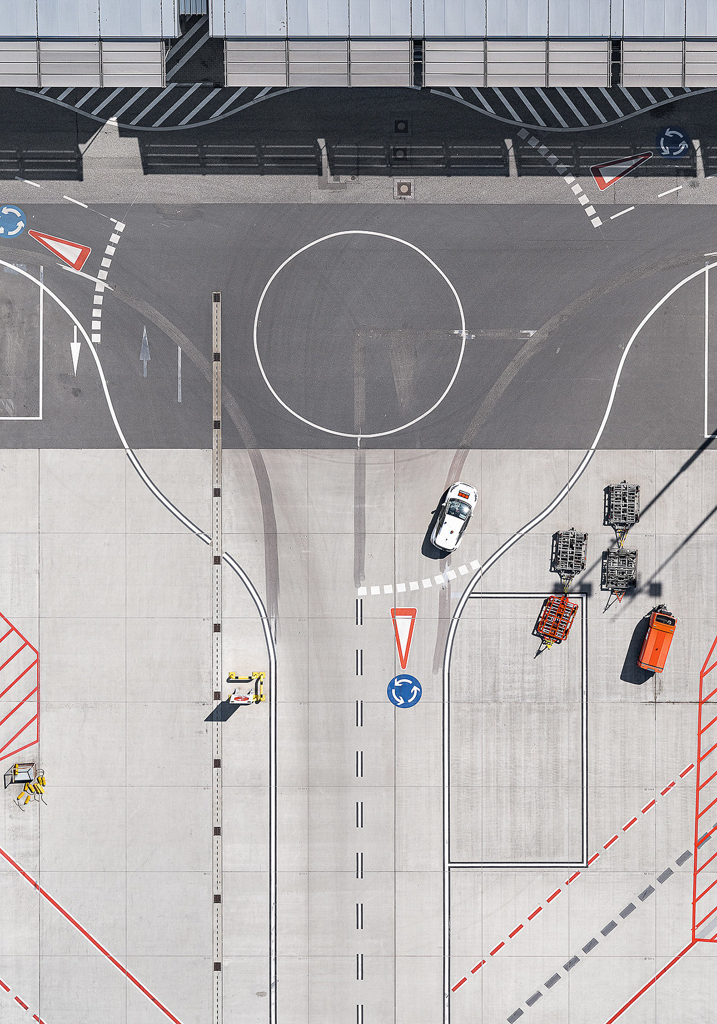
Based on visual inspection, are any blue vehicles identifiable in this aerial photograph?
No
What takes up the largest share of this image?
paved ground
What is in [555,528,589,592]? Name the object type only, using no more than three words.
trailer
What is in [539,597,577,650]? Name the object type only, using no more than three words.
trailer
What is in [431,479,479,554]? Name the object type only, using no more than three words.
car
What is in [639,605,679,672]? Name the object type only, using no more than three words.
work vehicle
